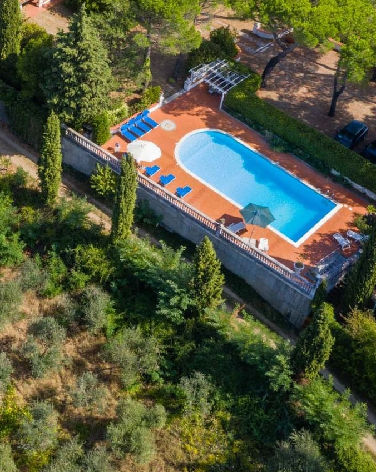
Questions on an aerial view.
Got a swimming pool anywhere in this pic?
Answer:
Yes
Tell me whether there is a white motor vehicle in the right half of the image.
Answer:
No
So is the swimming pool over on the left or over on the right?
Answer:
right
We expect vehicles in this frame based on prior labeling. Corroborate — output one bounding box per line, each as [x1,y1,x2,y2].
[333,120,370,150]
[360,139,376,164]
